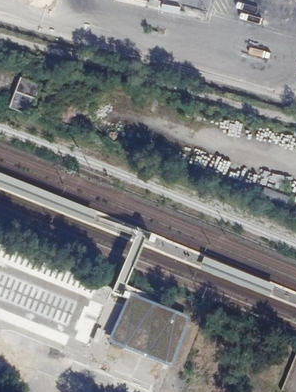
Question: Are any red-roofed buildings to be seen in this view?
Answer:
No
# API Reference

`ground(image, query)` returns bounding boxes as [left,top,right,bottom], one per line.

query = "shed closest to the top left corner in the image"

[9,77,38,114]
